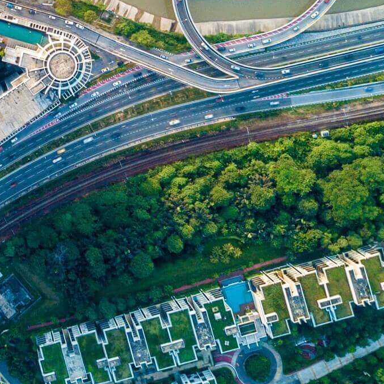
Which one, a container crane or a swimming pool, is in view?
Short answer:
swimming pool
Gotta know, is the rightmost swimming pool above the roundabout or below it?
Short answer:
above it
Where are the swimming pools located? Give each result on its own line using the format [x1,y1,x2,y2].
[0,20,49,45]
[219,274,252,313]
